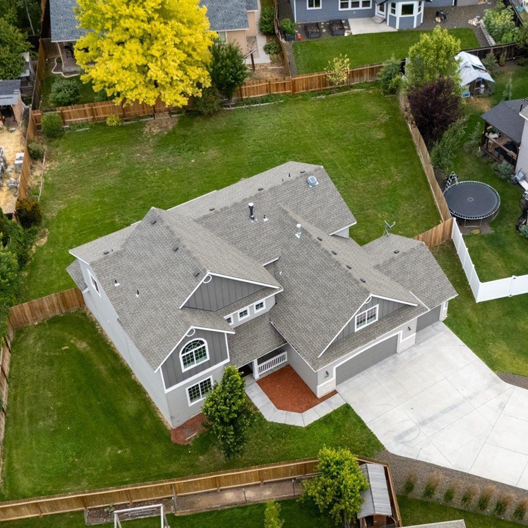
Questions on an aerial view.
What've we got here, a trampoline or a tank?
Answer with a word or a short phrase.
trampoline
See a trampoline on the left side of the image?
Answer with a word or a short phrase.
No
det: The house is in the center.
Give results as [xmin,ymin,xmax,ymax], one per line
[65,162,459,428]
